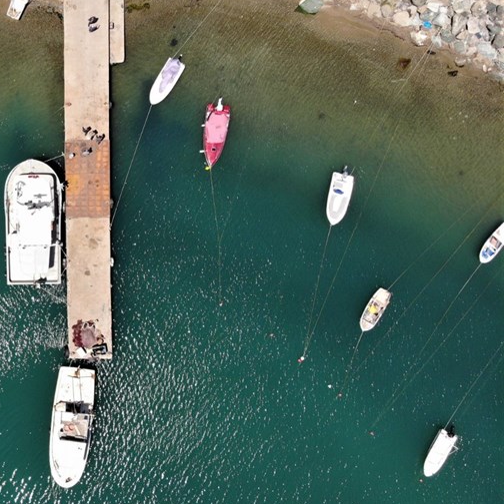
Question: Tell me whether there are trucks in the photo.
No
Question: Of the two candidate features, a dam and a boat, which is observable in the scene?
boat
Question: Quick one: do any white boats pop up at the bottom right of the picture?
Yes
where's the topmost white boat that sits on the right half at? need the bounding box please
[325,164,354,225]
